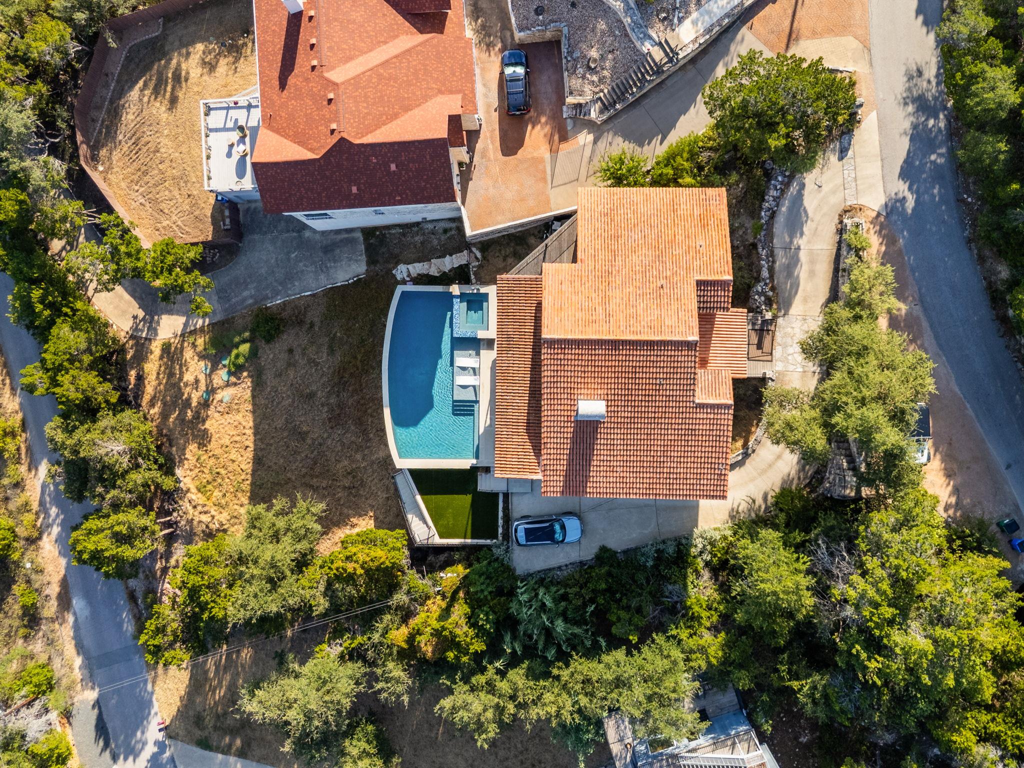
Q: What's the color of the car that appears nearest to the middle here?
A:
blue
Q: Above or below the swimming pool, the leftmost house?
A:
above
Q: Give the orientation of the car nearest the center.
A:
from side to side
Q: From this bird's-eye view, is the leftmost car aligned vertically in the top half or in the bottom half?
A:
top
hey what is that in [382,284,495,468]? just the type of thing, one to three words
swimming pool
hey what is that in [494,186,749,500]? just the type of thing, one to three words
house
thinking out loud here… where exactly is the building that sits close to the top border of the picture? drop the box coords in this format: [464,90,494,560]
[252,0,479,233]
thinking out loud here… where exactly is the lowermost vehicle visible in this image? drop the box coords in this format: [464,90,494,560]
[515,513,583,548]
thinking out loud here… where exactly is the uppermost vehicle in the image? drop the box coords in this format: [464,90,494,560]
[497,49,531,122]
